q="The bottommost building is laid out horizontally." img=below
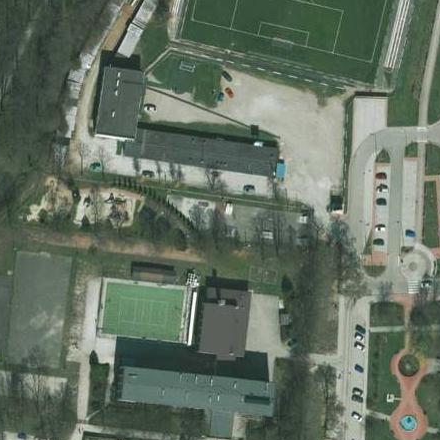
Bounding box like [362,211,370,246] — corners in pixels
[119,367,275,416]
